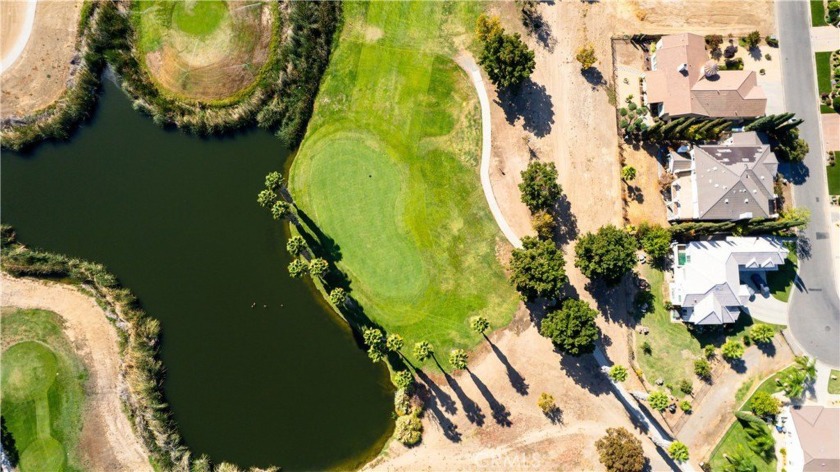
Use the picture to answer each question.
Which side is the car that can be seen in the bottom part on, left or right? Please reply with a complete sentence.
You can find the car that can be seen in the bottom part on the right side of the picture.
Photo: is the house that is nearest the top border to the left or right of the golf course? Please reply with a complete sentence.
The house that is nearest the top border is to the right of the golf course.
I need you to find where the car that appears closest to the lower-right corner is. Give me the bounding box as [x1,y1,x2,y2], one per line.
[751,273,771,296]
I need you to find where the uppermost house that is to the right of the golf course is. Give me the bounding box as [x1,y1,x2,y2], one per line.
[641,32,767,117]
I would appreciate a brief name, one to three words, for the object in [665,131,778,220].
house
